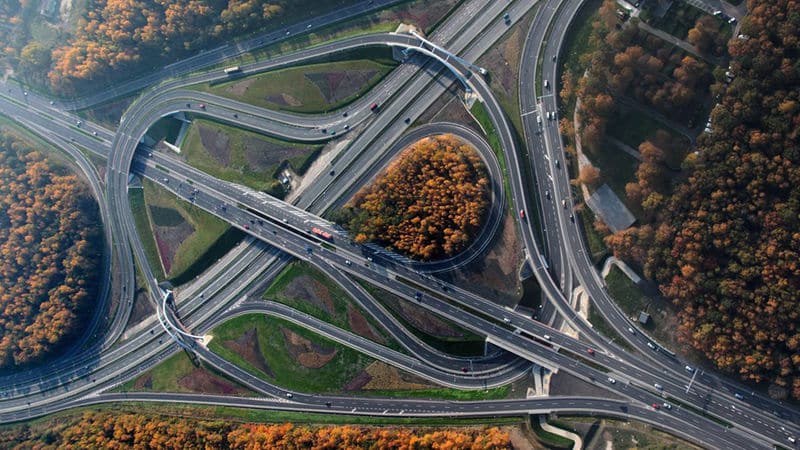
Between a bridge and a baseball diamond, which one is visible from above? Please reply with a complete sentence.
There is a bridge in the scene.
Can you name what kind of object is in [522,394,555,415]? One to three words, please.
overpass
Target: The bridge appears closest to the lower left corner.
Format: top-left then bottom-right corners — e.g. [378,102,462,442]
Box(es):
[152,292,212,359]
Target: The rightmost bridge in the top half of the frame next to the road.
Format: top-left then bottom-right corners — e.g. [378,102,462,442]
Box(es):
[388,28,488,95]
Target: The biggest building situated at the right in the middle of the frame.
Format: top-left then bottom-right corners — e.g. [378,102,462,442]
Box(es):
[591,184,638,232]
